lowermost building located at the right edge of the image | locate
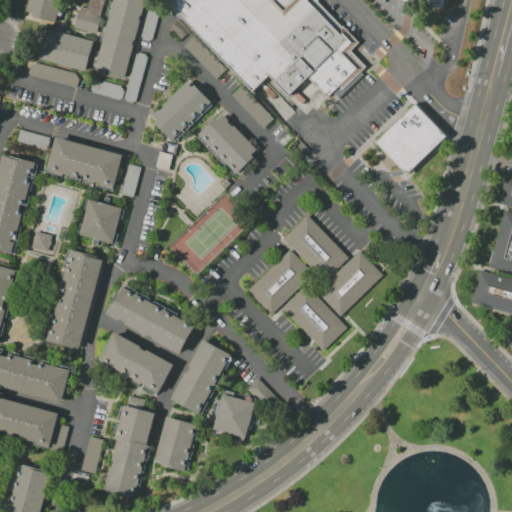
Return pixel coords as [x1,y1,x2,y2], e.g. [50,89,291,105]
[473,271,512,314]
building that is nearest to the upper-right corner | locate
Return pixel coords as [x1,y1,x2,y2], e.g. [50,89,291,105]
[376,104,447,172]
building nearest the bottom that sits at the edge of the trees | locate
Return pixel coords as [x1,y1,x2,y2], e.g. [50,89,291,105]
[9,465,46,512]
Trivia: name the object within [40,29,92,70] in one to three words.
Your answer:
house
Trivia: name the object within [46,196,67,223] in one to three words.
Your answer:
swimming pool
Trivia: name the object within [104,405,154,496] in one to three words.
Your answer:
building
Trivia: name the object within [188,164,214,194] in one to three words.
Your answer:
swimming pool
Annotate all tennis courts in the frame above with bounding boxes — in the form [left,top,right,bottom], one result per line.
[170,194,246,273]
